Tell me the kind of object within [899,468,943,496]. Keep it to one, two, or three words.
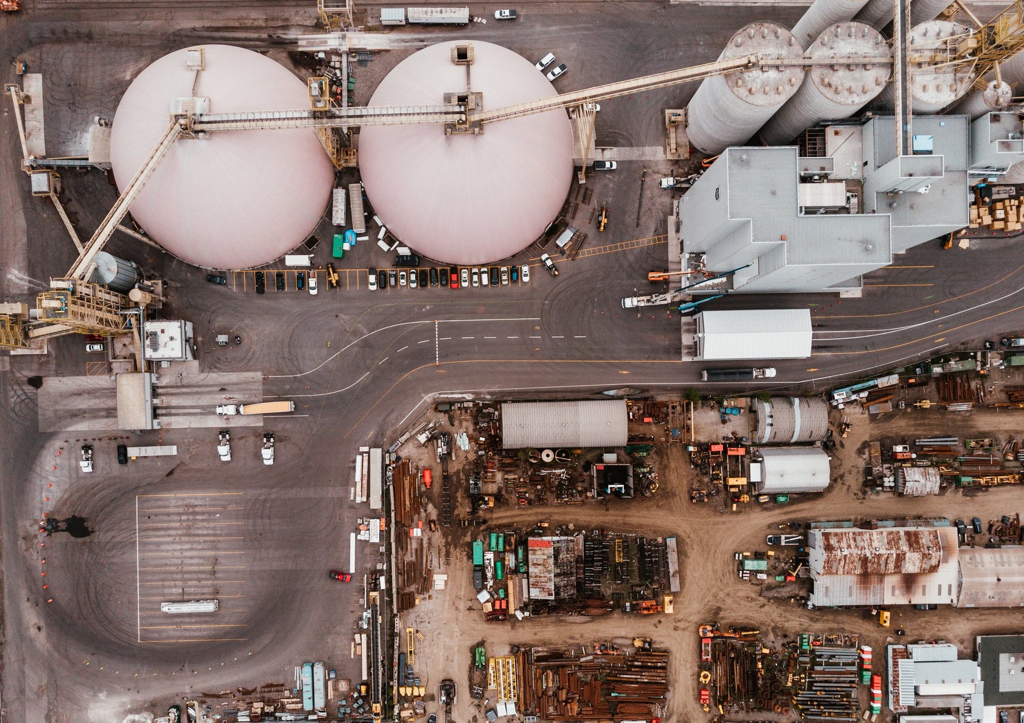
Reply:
shed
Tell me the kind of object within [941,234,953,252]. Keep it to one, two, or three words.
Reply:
vehicle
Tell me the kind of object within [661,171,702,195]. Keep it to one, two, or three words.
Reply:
truck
